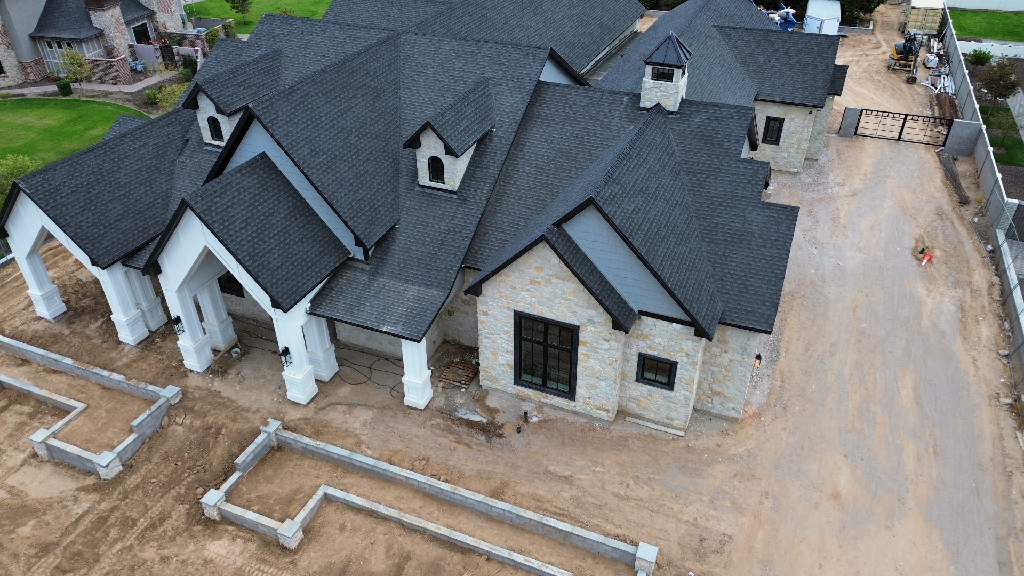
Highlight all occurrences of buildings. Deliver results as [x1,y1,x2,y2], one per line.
[0,0,233,89]
[0,0,849,433]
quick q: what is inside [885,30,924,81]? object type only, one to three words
work vehicle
